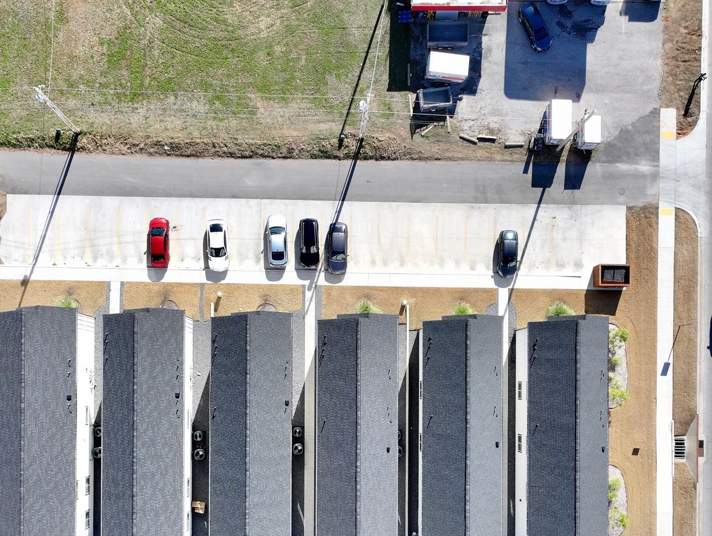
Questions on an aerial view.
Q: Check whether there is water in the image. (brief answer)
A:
No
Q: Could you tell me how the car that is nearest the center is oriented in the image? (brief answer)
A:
up and down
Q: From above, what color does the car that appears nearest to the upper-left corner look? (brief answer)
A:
red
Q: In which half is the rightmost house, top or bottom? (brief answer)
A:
bottom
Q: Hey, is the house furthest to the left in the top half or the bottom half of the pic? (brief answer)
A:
bottom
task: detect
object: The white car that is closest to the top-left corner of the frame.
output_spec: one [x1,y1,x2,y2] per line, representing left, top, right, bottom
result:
[205,220,229,272]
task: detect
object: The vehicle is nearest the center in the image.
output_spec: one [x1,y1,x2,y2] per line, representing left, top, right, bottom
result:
[326,223,350,275]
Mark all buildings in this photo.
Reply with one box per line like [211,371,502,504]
[0,305,95,536]
[410,0,508,23]
[100,306,193,536]
[419,313,504,536]
[515,313,610,536]
[209,308,293,536]
[316,312,399,536]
